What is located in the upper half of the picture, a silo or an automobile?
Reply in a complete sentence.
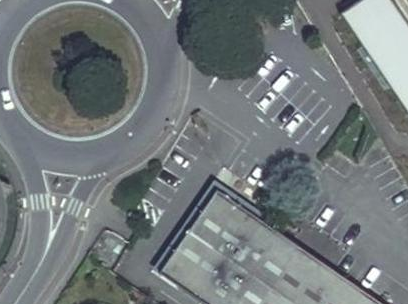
It is an automobile that can be seen in the upper half of the picture.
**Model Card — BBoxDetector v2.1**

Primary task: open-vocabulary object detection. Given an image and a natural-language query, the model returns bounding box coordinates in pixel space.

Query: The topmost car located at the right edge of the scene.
[391,189,408,206]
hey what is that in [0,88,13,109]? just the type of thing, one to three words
vehicle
